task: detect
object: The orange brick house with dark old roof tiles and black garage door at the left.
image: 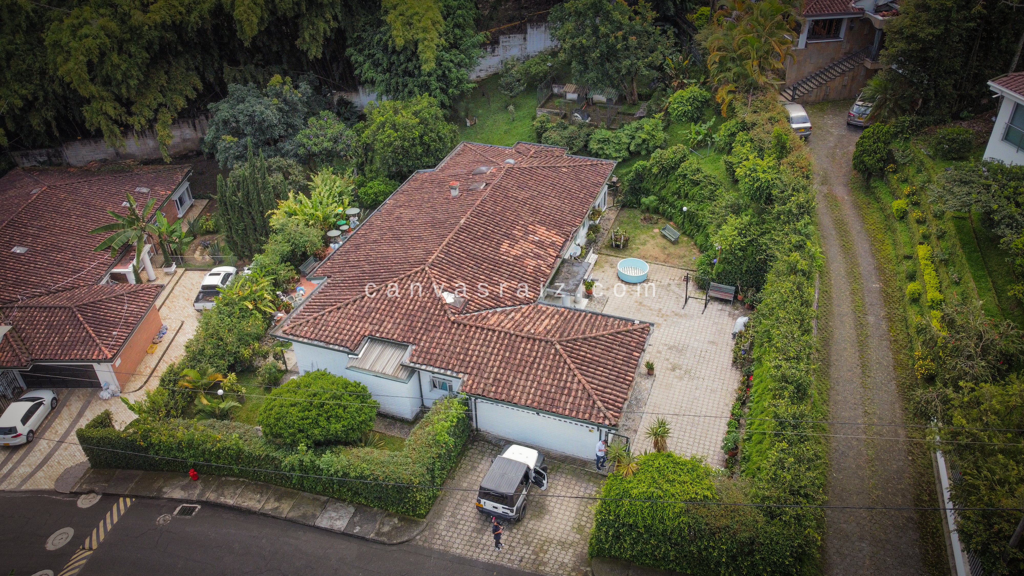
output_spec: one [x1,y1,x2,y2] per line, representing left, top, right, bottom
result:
[0,167,201,399]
